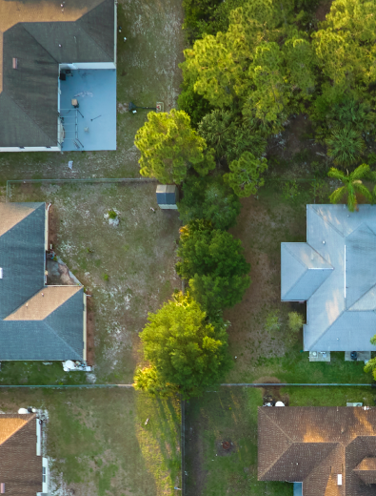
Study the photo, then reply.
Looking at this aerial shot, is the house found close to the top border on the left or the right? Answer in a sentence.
The house found close to the top border appears in the left half of the scene.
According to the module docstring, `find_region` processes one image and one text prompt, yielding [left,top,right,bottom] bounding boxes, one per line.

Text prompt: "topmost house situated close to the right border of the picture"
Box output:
[280,203,376,351]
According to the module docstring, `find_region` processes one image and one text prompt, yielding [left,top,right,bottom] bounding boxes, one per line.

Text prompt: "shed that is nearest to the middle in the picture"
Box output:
[151,182,175,205]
